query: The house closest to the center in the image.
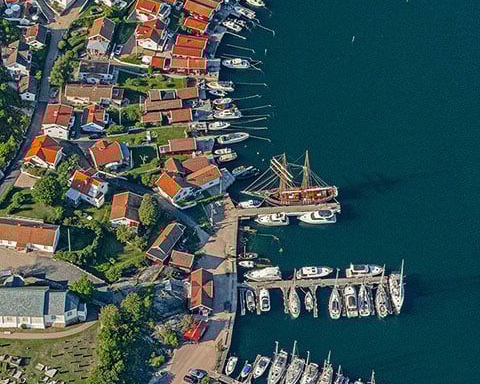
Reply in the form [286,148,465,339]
[200,164,226,194]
